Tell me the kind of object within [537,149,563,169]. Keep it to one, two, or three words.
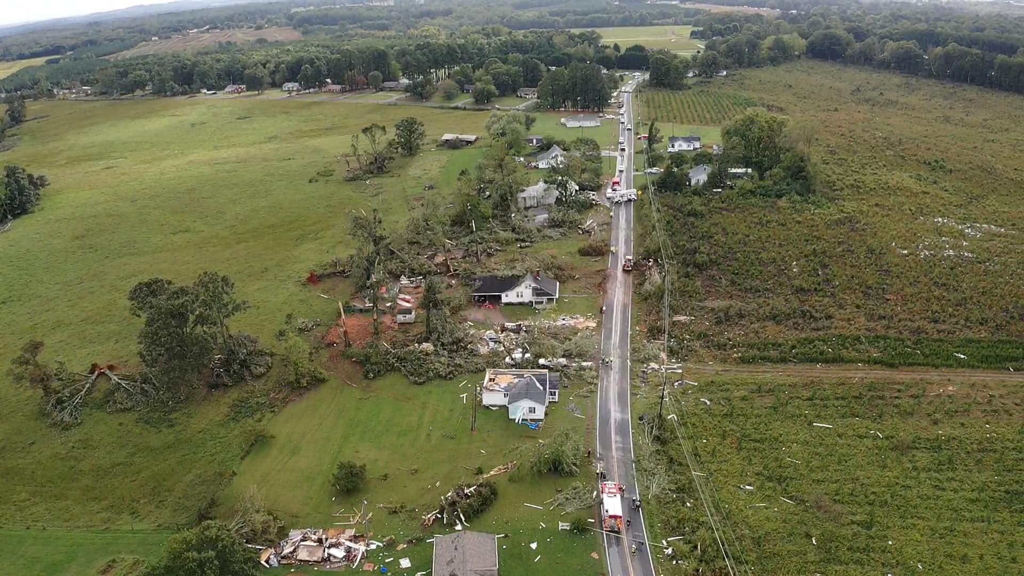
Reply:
house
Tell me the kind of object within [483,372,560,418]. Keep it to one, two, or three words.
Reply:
house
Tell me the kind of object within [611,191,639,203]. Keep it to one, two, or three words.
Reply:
vehicle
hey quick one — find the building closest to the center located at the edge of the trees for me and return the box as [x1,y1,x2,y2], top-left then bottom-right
[471,269,559,307]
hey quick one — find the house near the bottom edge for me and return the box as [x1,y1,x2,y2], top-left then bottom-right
[427,533,498,576]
